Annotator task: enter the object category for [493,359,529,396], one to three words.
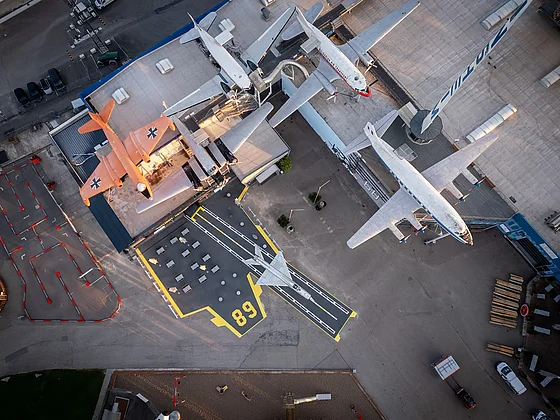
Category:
car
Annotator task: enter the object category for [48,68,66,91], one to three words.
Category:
car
